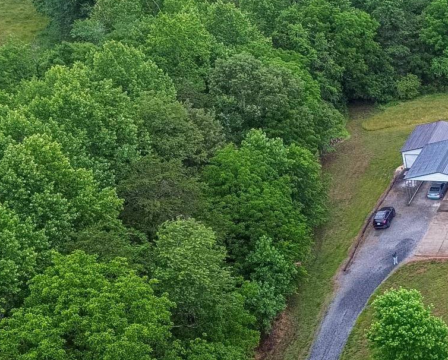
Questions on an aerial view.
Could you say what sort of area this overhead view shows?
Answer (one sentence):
This looks like a forest.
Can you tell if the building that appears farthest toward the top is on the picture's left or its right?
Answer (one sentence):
The building that appears farthest toward the top appears in the right half of the scene.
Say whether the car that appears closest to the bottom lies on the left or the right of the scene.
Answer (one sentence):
It is on the right.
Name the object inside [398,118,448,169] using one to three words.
building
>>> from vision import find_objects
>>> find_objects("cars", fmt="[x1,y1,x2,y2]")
[373,203,399,227]
[427,182,448,197]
